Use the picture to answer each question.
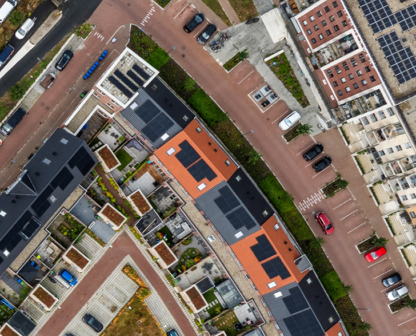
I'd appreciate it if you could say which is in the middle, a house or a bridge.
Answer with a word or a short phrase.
house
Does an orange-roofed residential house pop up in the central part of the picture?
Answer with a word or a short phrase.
Yes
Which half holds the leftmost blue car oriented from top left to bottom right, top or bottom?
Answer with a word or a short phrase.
bottom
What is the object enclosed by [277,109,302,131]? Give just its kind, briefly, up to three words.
car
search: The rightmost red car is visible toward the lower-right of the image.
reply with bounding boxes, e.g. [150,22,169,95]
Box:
[361,247,388,263]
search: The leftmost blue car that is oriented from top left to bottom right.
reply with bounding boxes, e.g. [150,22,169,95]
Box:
[57,266,79,288]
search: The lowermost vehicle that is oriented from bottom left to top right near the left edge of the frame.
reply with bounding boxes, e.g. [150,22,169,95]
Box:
[0,108,25,138]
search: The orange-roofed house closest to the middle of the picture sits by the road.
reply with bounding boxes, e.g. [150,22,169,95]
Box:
[145,117,240,200]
